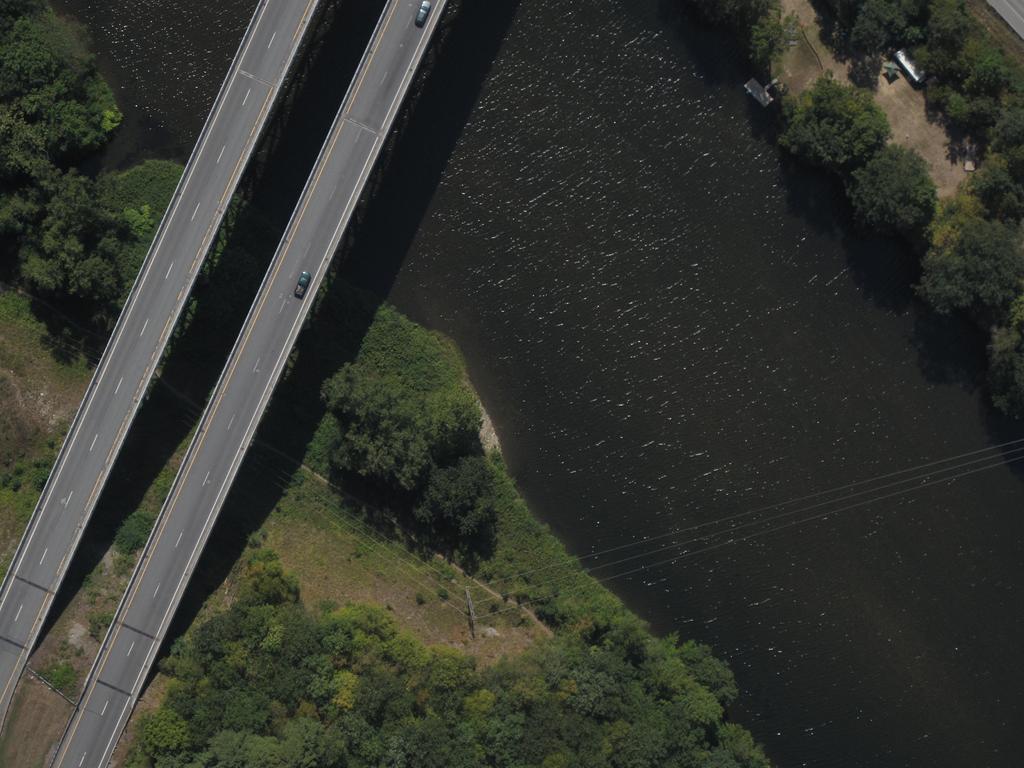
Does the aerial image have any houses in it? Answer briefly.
No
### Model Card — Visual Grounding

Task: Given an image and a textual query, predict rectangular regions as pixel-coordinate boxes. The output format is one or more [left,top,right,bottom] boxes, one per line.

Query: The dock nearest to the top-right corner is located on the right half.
[743,78,777,107]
